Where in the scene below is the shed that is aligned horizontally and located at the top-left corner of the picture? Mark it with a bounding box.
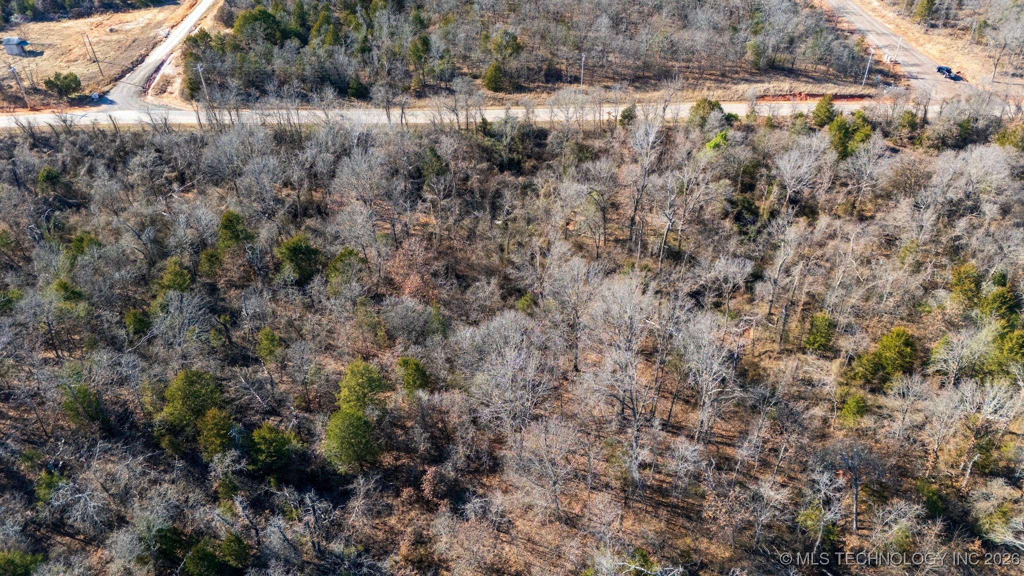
[4,40,38,56]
